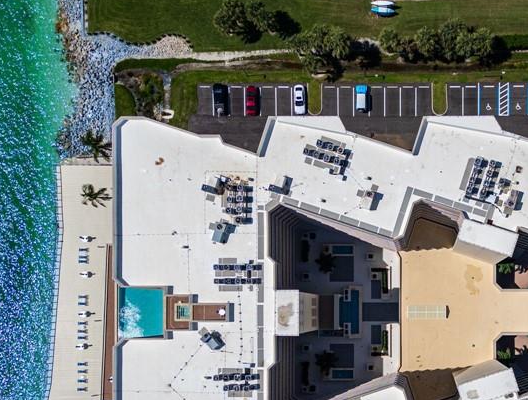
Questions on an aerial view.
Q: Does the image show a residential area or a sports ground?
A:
residential area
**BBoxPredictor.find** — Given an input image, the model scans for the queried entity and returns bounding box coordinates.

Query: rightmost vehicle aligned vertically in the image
[355,85,368,113]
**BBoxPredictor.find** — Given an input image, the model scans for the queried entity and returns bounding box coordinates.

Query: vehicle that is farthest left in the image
[213,83,228,118]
